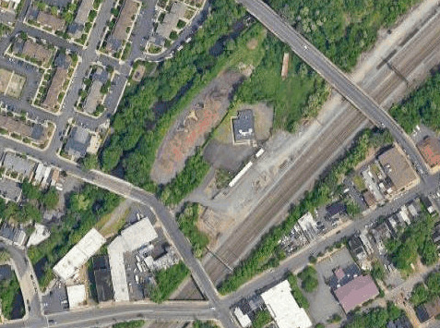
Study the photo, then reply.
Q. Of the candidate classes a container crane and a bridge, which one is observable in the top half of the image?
bridge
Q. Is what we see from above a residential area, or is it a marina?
residential area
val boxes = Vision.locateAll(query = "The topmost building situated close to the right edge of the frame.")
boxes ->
[416,135,440,168]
